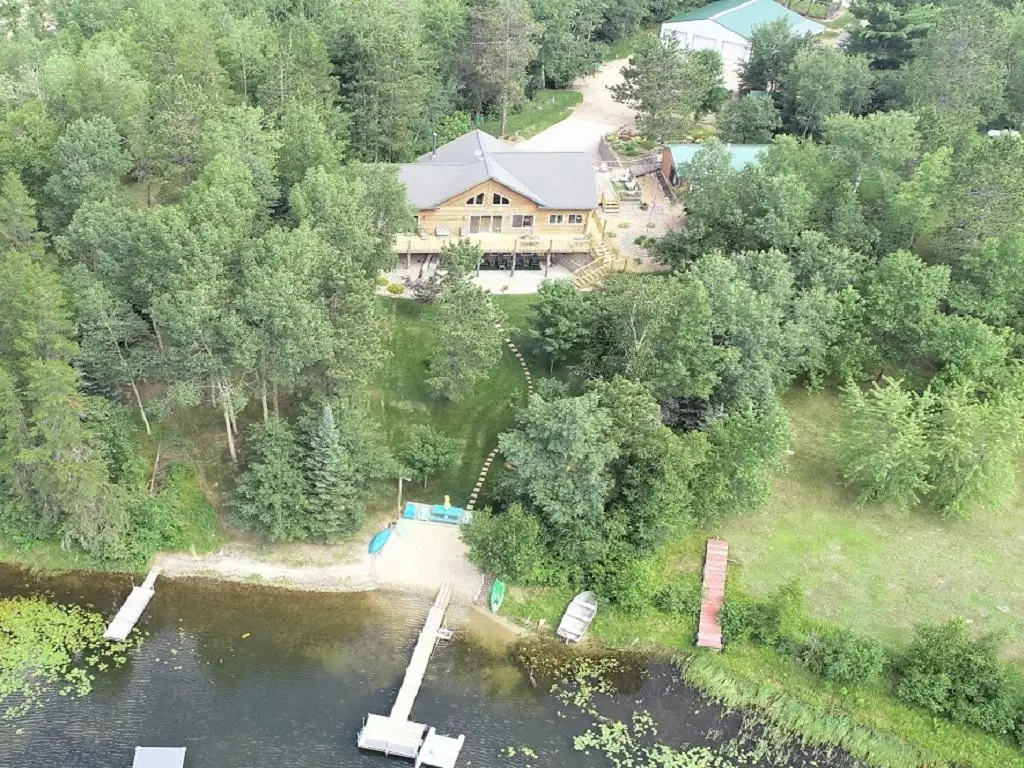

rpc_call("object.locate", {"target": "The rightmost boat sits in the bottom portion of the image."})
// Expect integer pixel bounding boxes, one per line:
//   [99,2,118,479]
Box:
[559,585,596,640]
